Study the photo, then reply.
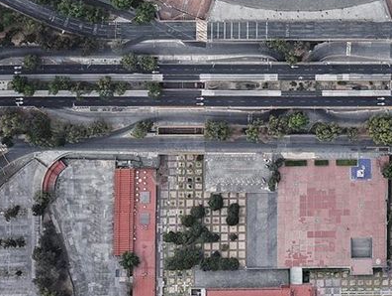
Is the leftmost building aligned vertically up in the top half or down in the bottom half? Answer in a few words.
bottom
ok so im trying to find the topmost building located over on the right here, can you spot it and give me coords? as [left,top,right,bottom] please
[204,150,270,192]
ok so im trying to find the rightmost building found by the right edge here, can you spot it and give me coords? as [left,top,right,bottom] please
[277,151,387,274]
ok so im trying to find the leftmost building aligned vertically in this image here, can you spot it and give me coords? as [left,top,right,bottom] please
[112,167,135,254]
